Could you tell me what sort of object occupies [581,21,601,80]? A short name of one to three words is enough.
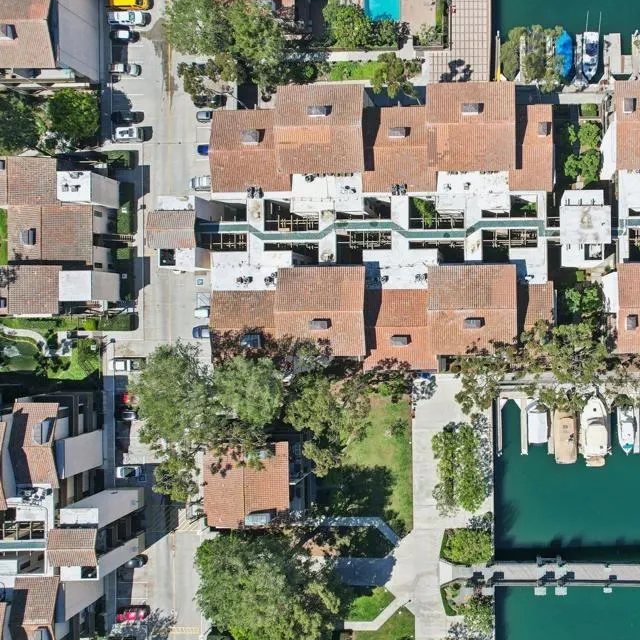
boat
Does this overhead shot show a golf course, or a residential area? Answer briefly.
residential area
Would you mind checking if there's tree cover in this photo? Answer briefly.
Yes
